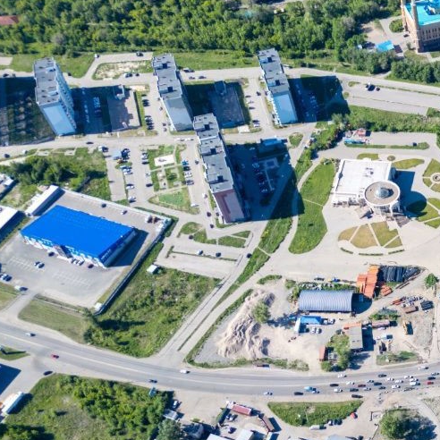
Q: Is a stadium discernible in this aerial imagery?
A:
No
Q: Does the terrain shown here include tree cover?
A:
Yes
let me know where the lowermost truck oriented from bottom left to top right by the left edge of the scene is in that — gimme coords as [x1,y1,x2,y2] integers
[0,393,28,414]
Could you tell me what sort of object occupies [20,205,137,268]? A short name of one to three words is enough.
building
